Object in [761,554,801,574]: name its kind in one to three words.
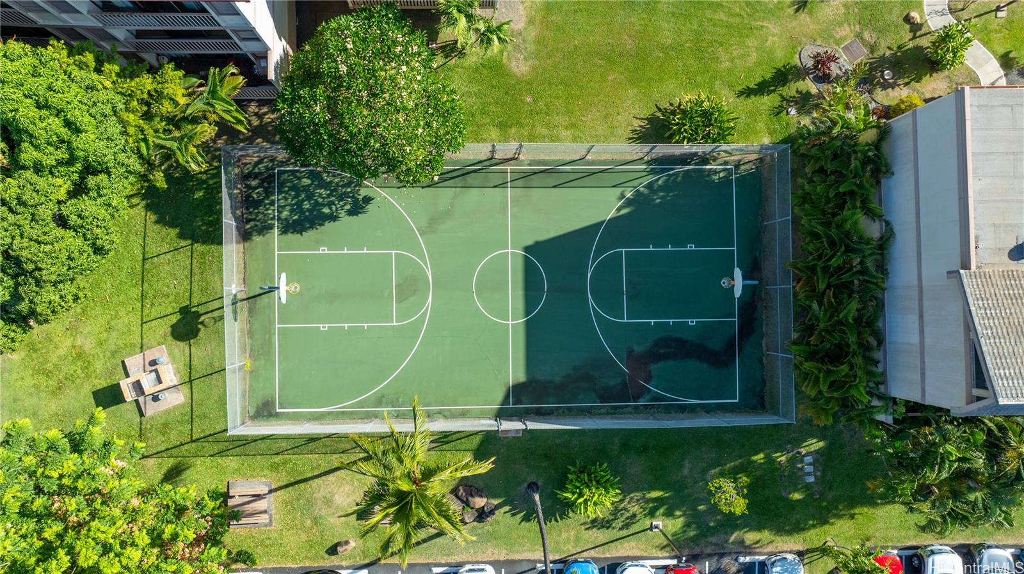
car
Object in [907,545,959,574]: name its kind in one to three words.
car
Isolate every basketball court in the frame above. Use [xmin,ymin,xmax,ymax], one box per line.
[249,161,764,420]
